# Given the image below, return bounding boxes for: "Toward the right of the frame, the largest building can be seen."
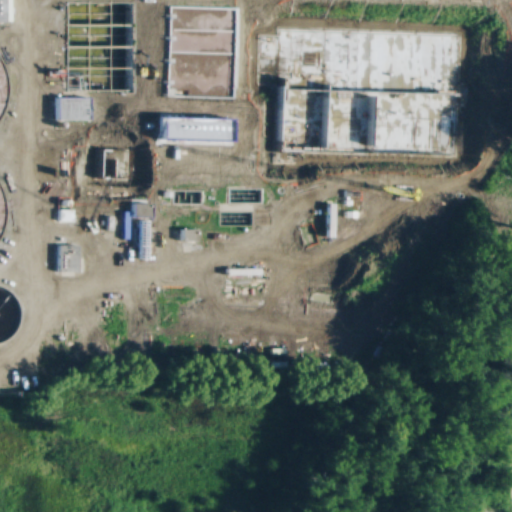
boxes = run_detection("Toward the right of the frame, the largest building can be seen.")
[322,201,338,242]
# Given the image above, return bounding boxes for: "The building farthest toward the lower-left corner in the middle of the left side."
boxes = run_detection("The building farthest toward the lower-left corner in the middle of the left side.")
[57,246,82,274]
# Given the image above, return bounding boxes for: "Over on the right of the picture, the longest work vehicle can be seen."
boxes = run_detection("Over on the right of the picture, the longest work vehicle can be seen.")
[382,186,420,205]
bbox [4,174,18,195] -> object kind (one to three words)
vehicle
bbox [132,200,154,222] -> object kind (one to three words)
building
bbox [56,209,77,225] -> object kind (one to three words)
shed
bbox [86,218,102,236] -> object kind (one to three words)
vehicle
